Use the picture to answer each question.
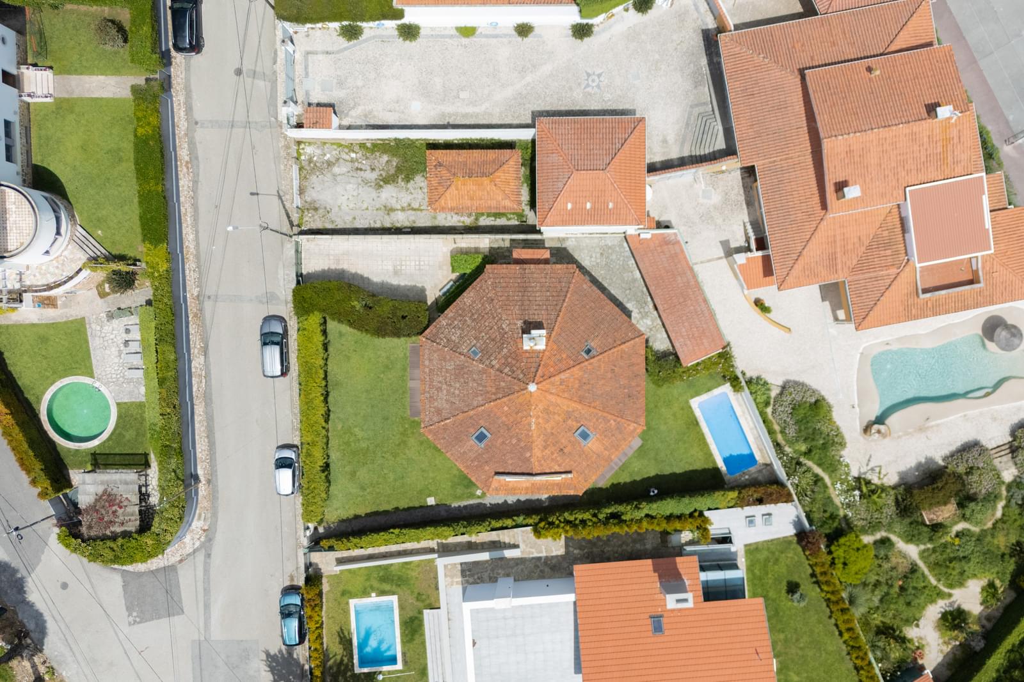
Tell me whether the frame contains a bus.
No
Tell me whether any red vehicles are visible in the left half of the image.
No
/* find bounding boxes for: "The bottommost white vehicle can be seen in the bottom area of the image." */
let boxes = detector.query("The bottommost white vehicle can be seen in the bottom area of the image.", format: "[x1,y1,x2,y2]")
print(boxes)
[273,443,302,495]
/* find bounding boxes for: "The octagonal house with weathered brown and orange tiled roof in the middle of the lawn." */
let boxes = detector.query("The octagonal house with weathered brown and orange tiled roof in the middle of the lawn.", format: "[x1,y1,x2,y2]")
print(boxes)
[418,248,647,497]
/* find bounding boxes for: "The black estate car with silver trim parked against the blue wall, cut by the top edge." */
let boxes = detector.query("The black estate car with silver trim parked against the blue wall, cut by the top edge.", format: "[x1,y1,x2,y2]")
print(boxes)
[171,0,206,54]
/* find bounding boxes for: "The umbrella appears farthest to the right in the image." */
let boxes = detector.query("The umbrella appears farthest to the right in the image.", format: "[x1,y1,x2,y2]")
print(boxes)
[991,322,1021,352]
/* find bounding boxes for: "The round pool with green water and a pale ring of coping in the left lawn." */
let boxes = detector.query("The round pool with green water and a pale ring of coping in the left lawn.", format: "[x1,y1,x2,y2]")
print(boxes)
[40,374,117,451]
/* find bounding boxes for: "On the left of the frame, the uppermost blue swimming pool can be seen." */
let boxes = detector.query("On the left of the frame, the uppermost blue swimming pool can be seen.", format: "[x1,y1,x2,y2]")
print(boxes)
[354,601,397,668]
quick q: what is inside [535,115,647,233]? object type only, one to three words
building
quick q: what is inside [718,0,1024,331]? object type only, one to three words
house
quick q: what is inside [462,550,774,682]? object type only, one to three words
house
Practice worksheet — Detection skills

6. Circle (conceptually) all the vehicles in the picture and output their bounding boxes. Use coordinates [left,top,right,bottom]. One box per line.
[273,443,302,495]
[171,0,206,54]
[278,585,308,645]
[258,314,290,377]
